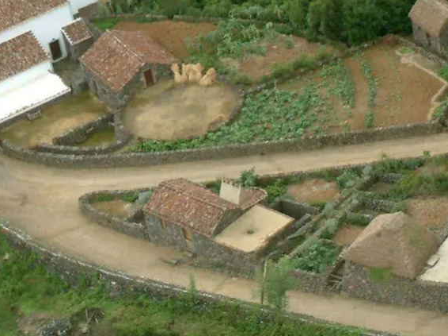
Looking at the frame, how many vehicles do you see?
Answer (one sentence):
The photo contains no vehicles.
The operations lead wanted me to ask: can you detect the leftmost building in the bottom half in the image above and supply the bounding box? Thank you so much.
[144,173,296,278]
